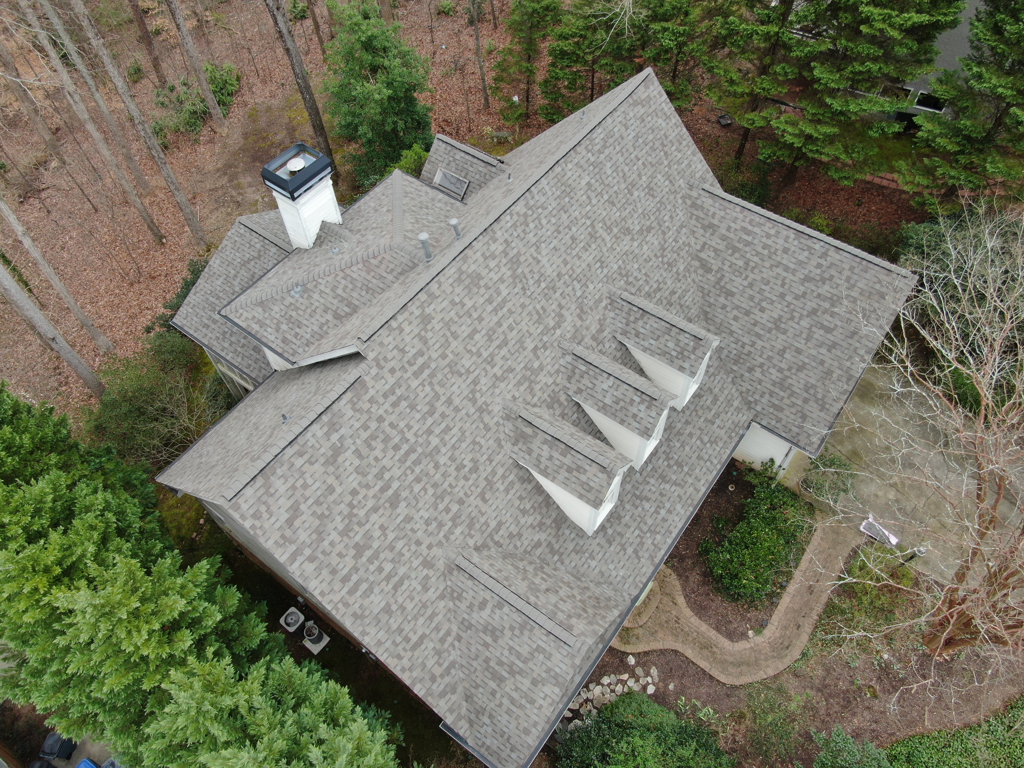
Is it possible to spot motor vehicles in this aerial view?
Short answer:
No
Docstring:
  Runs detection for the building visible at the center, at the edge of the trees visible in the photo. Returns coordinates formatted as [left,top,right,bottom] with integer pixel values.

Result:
[153,69,919,768]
